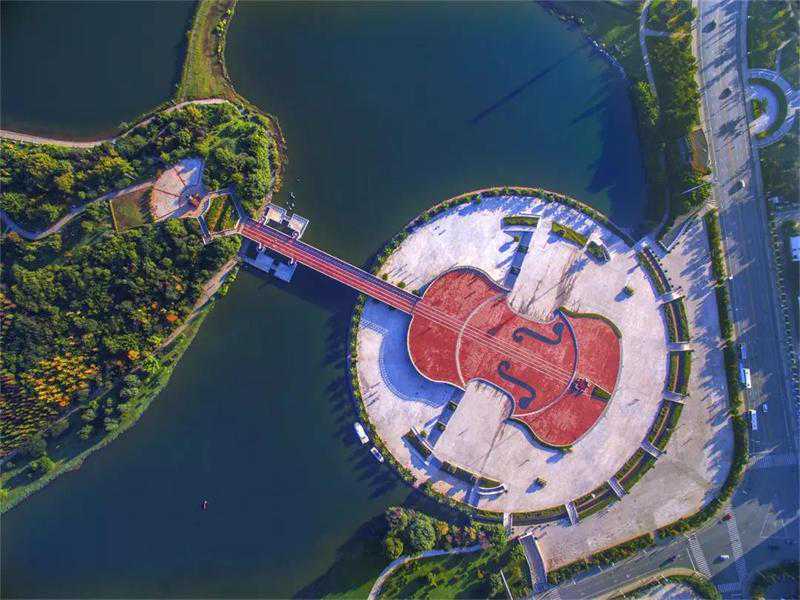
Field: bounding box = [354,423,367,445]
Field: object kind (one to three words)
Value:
boat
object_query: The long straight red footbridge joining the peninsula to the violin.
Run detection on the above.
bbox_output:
[238,217,418,312]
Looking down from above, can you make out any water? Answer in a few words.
Yes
